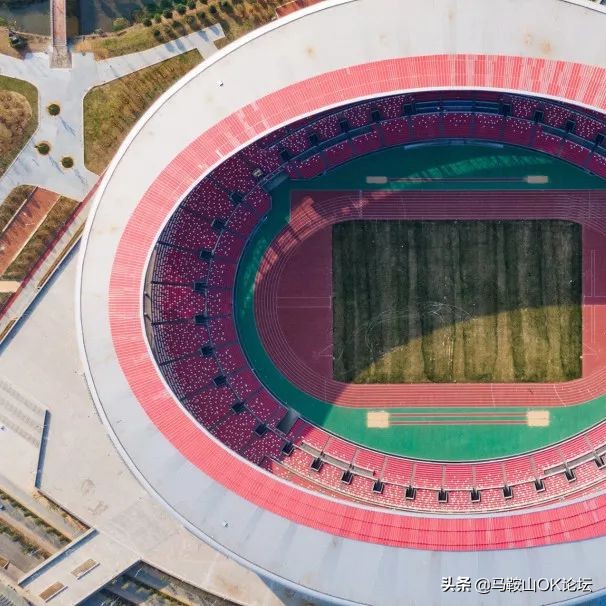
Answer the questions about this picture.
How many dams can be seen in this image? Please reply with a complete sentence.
I count no dams.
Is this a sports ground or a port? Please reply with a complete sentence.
It's a sports ground.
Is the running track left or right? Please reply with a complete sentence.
You can find the running track on the right side of the picture.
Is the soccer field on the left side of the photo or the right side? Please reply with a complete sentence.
The soccer field is on the right side of the image.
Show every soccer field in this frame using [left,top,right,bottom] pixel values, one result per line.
[333,220,582,383]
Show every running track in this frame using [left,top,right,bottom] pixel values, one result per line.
[254,191,606,408]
